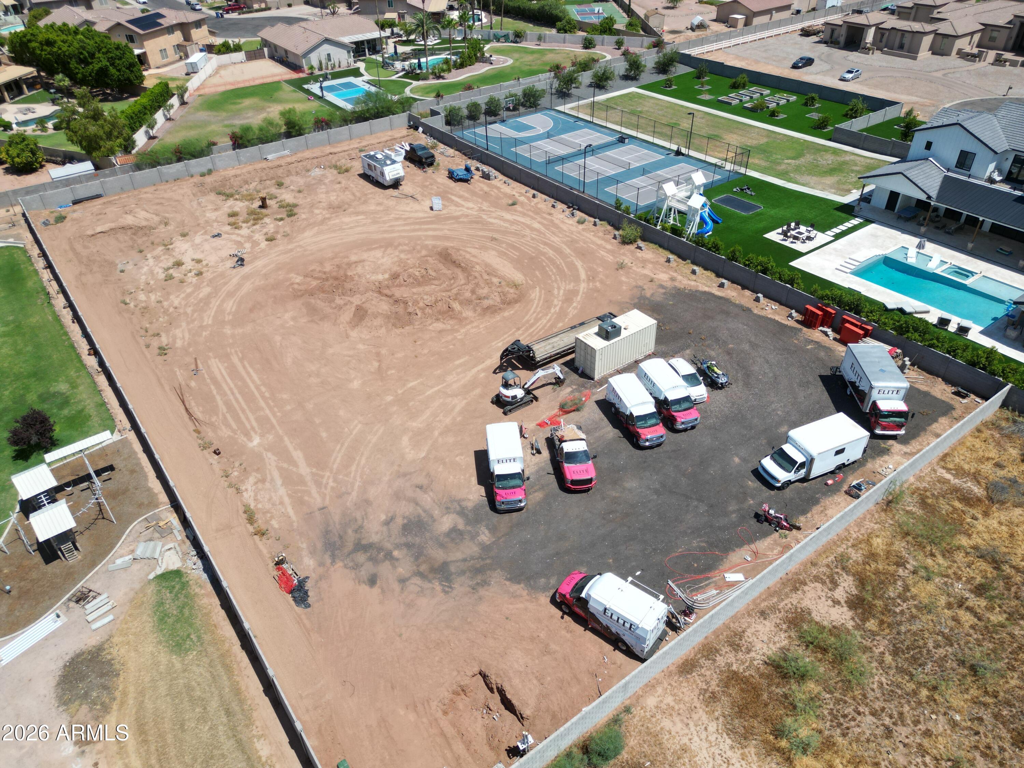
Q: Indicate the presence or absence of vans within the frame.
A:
Yes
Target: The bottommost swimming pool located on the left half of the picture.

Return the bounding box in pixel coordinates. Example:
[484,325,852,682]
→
[15,109,61,127]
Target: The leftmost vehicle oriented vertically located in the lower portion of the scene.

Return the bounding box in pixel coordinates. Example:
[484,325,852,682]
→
[486,422,531,508]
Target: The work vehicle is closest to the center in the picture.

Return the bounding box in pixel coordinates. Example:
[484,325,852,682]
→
[492,357,559,414]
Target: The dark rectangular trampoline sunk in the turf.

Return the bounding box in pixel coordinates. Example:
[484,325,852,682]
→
[715,195,761,213]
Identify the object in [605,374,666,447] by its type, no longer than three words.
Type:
vehicle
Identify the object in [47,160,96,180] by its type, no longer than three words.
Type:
shed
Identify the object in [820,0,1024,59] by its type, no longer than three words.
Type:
house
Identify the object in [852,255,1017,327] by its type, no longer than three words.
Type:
swimming pool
